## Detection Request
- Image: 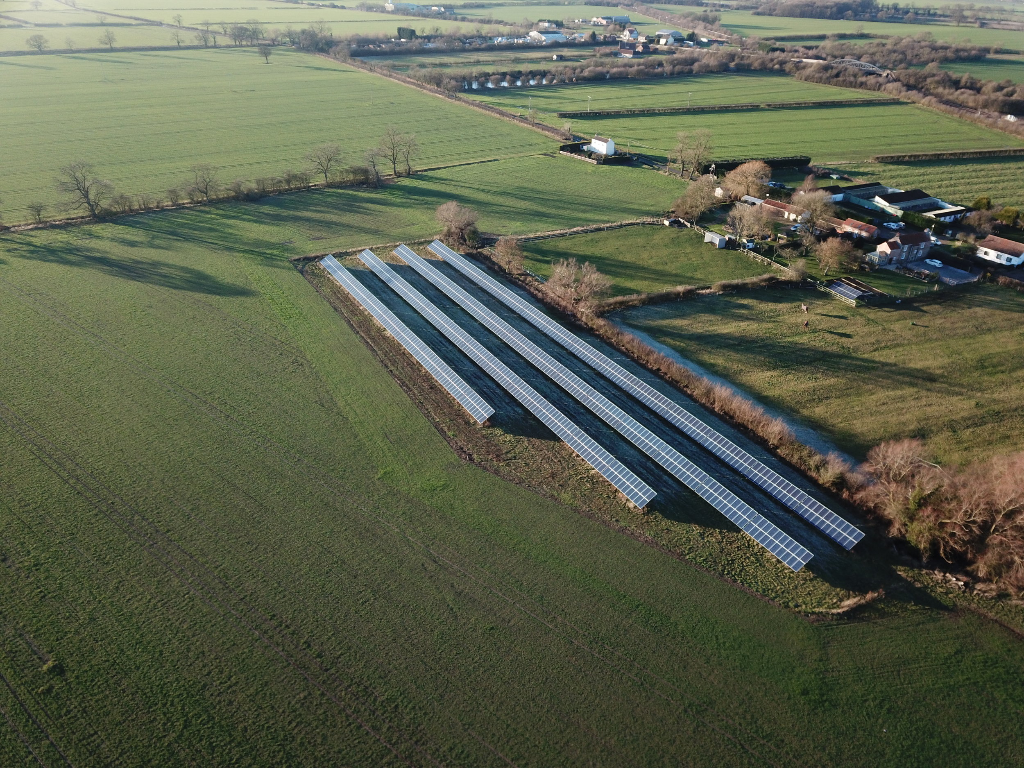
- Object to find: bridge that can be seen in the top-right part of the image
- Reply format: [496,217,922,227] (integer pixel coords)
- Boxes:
[817,56,883,78]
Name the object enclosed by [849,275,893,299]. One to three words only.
shed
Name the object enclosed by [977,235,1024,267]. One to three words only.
house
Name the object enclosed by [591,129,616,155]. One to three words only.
house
